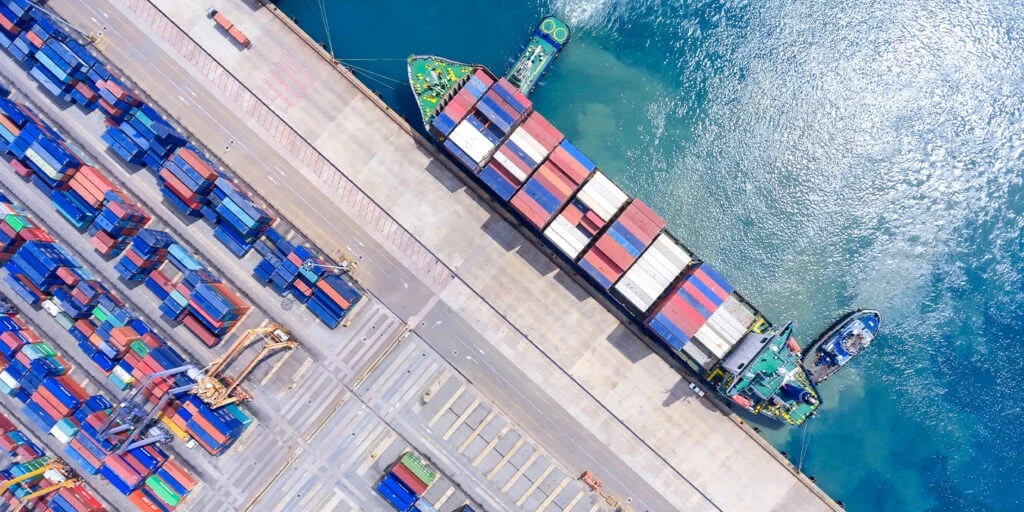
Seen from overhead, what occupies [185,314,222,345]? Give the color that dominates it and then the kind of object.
pink shipping container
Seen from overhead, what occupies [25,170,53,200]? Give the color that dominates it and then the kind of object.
blue shipping container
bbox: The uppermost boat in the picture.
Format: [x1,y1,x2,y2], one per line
[502,16,569,100]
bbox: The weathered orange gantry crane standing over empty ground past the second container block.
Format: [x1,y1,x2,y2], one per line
[196,321,298,414]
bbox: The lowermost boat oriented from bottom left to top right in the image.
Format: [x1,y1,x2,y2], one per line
[806,309,882,390]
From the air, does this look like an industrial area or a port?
port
